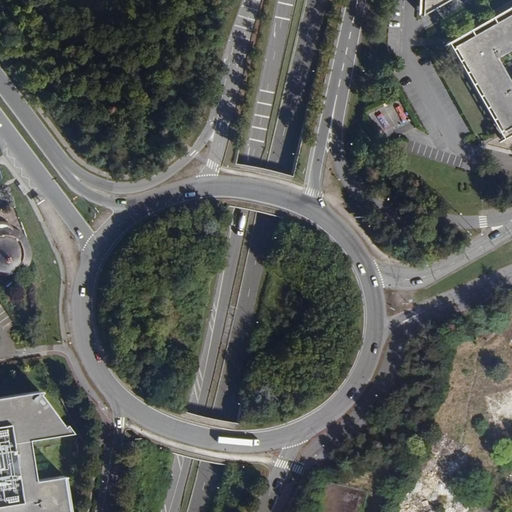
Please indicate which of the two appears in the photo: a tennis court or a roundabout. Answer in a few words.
roundabout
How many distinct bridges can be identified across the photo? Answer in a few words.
2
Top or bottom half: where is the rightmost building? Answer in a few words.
top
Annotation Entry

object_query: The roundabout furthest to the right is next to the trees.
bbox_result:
[72,174,388,452]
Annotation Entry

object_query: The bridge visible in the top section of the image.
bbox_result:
[212,164,301,218]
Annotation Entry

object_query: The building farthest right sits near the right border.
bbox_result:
[449,8,512,140]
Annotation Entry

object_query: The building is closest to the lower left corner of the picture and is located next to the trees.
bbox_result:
[0,390,78,512]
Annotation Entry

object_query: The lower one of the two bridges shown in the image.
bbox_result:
[130,412,275,466]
